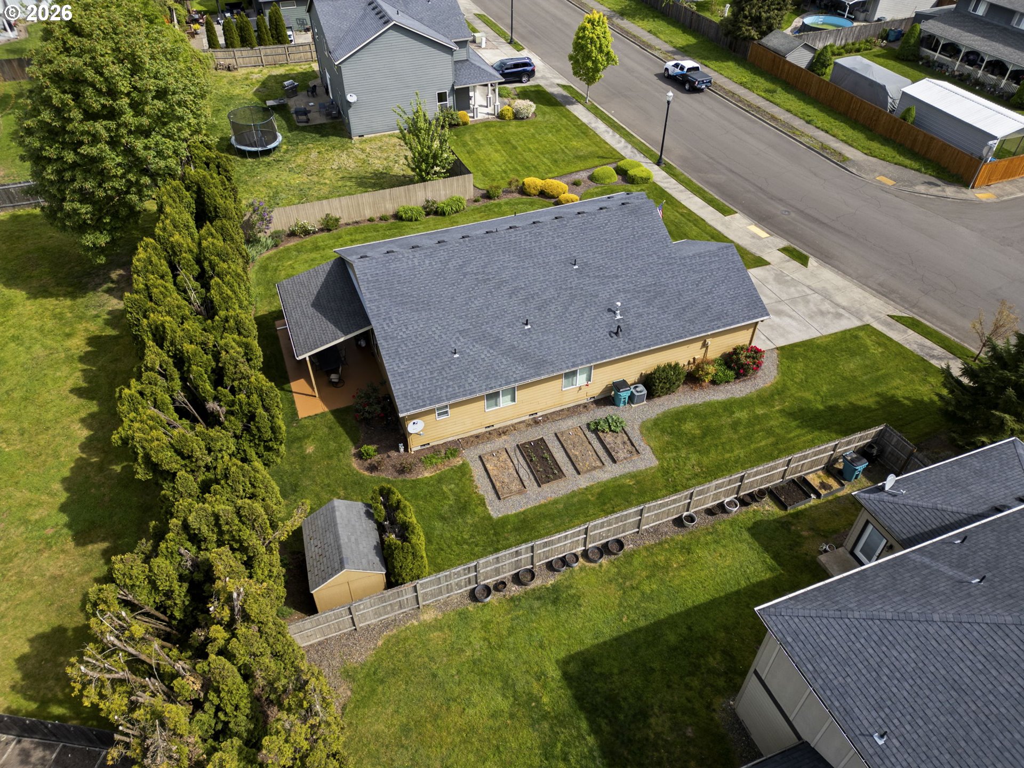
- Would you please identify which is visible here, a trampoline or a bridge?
trampoline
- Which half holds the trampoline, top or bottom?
top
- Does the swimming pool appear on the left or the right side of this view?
right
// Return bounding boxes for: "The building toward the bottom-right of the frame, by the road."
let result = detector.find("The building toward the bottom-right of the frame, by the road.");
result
[735,435,1024,768]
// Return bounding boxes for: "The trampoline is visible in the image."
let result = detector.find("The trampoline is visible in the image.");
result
[227,107,283,160]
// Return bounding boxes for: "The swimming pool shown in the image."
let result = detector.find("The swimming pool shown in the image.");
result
[800,14,856,34]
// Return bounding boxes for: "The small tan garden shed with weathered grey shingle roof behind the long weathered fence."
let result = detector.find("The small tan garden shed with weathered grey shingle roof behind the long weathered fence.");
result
[297,506,386,617]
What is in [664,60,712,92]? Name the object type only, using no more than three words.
truck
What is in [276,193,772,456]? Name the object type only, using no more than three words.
house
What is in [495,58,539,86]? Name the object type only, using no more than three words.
car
